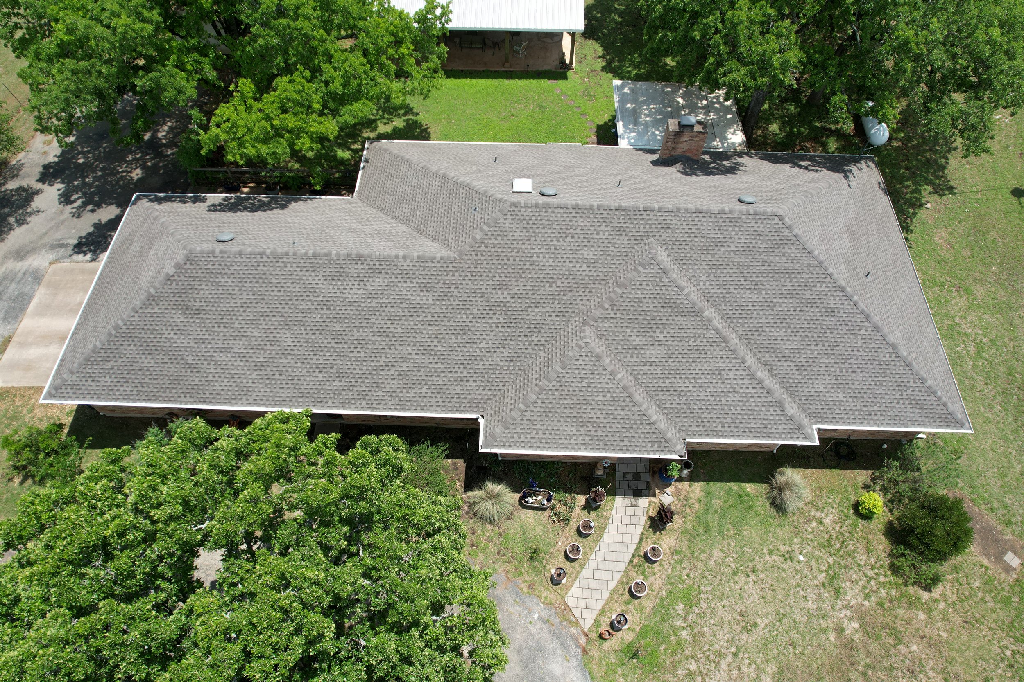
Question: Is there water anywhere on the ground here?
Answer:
No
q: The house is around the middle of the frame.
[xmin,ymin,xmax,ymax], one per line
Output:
[41,114,974,464]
